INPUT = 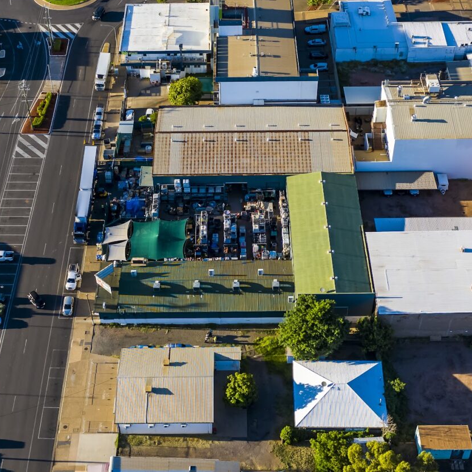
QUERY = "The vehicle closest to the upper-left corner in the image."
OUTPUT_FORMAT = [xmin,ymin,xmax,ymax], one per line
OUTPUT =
[92,4,106,20]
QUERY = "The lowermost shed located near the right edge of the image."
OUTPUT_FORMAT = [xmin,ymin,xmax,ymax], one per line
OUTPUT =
[417,424,472,460]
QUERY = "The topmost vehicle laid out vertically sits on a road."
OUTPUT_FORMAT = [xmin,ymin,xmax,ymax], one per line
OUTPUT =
[93,53,110,91]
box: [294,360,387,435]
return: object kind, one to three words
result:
house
